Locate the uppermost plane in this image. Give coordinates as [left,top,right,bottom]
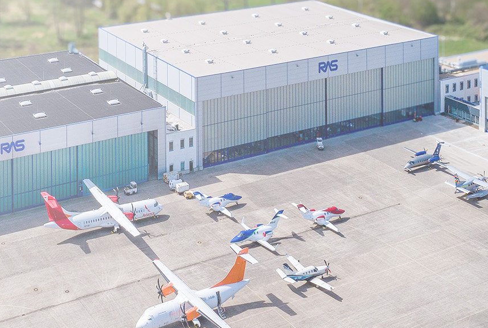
[402,141,450,173]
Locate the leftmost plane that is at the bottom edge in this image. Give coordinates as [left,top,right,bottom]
[136,245,257,328]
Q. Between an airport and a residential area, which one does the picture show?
airport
